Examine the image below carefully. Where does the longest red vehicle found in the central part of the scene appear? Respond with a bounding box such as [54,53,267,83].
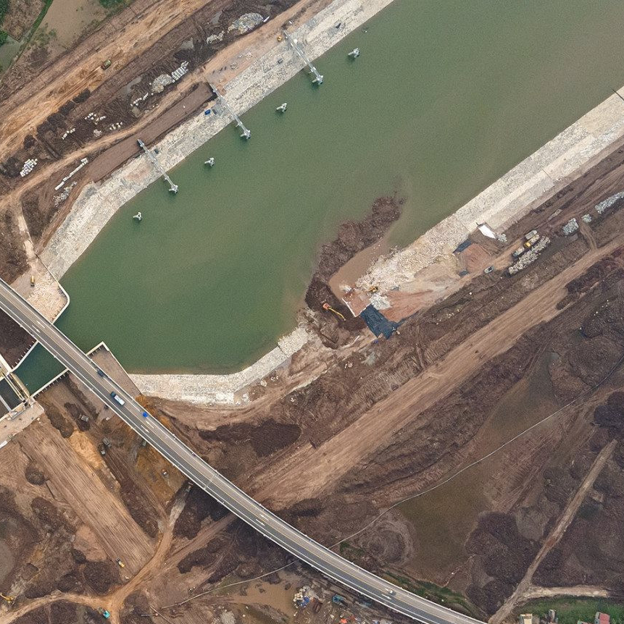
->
[322,301,347,322]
